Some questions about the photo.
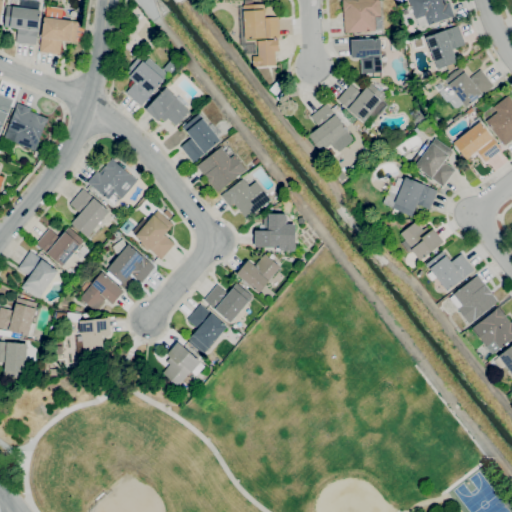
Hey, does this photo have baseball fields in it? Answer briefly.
Yes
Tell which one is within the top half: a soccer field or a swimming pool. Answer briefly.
swimming pool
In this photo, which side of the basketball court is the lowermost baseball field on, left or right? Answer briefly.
to the left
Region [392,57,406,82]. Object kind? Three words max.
swimming pool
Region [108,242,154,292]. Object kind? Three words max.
house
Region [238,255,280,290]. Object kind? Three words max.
house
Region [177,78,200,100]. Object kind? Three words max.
swimming pool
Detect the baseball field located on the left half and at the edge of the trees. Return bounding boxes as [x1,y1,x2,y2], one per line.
[29,395,262,512]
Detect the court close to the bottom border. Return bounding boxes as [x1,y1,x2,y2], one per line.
[450,470,510,512]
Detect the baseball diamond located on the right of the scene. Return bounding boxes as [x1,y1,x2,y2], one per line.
[182,250,483,512]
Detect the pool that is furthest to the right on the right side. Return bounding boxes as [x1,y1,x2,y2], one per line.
[447,118,470,136]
